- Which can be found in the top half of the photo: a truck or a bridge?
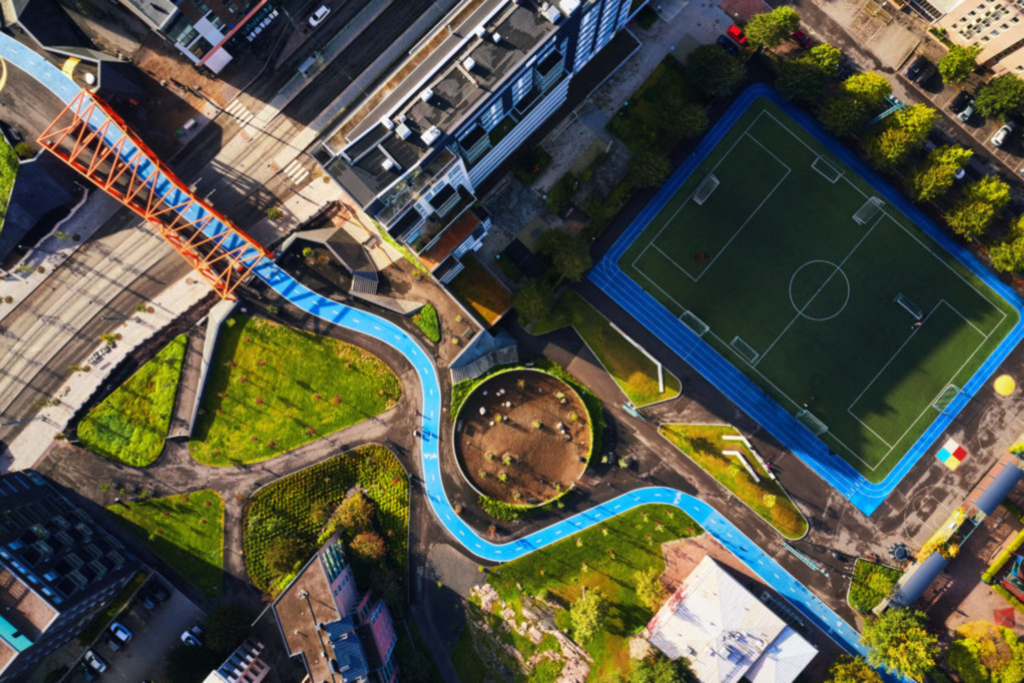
bridge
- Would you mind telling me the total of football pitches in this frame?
1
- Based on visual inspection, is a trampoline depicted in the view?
No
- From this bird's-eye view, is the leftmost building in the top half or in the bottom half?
bottom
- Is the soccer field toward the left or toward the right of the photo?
right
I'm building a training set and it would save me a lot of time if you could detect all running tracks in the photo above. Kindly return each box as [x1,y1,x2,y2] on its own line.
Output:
[588,80,1024,516]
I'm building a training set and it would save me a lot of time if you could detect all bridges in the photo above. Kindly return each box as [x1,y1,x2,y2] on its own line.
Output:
[36,90,285,304]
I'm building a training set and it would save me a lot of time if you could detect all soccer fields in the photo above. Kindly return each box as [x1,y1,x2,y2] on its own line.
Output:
[621,99,1018,481]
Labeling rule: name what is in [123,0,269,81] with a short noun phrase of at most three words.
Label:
building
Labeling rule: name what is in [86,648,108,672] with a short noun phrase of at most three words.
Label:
car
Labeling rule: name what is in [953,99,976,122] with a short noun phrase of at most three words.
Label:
car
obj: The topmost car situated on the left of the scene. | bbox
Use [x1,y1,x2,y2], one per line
[307,6,331,28]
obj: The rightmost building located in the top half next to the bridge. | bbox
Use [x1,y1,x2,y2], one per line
[305,0,672,290]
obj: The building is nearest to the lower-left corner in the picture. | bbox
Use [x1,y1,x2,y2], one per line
[0,470,146,683]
